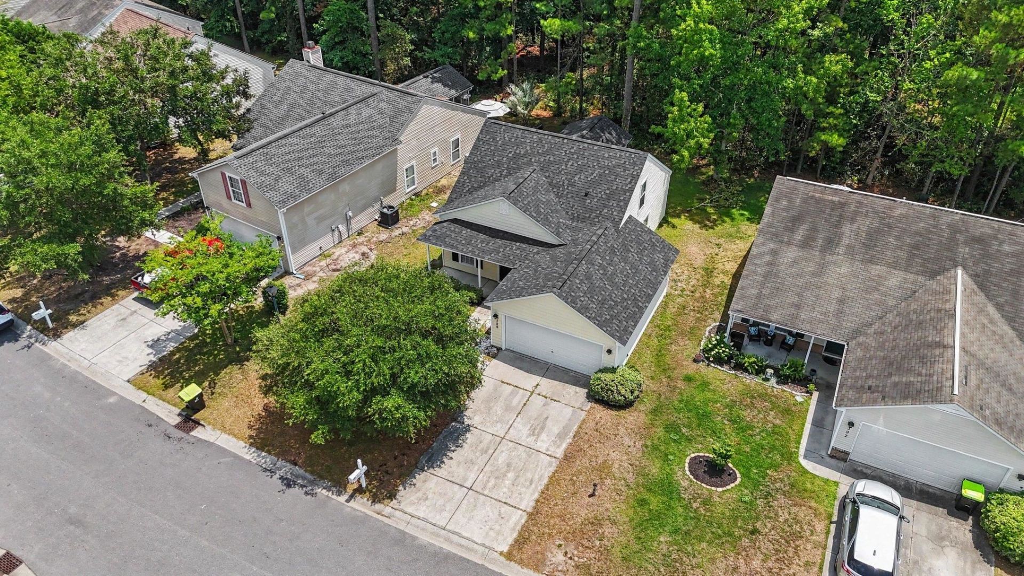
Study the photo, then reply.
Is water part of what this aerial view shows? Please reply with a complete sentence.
No, the picture contains no water.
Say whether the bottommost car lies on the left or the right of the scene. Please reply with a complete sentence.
The bottommost car sits on the right side.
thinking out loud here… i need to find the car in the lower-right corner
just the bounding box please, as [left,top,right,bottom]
[832,480,911,576]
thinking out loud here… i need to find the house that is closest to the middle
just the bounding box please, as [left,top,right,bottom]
[417,114,680,379]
